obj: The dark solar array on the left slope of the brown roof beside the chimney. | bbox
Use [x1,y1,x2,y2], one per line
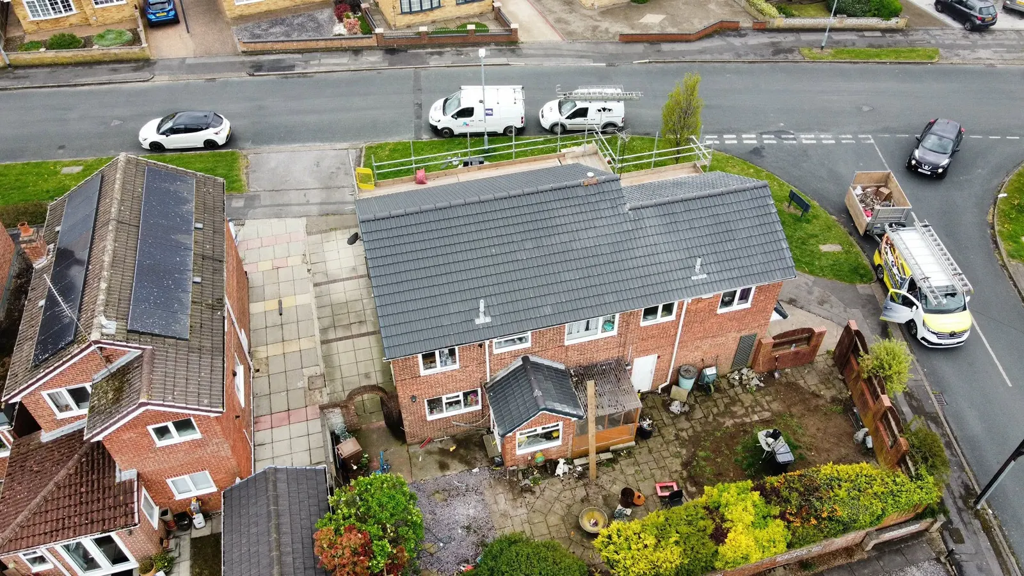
[25,172,98,368]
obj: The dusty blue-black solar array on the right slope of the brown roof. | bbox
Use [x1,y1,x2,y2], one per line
[130,164,197,338]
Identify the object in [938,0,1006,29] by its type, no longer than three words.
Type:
car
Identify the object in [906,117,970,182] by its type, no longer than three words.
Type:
car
